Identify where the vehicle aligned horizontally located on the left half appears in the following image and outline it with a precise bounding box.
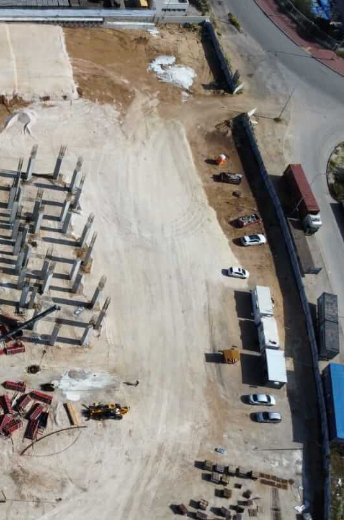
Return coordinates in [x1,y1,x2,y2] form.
[80,401,133,422]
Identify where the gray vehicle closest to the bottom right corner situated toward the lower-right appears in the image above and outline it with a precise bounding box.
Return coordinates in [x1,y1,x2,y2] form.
[253,409,285,423]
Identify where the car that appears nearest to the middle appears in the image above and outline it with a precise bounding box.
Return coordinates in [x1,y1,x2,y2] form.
[226,265,252,279]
